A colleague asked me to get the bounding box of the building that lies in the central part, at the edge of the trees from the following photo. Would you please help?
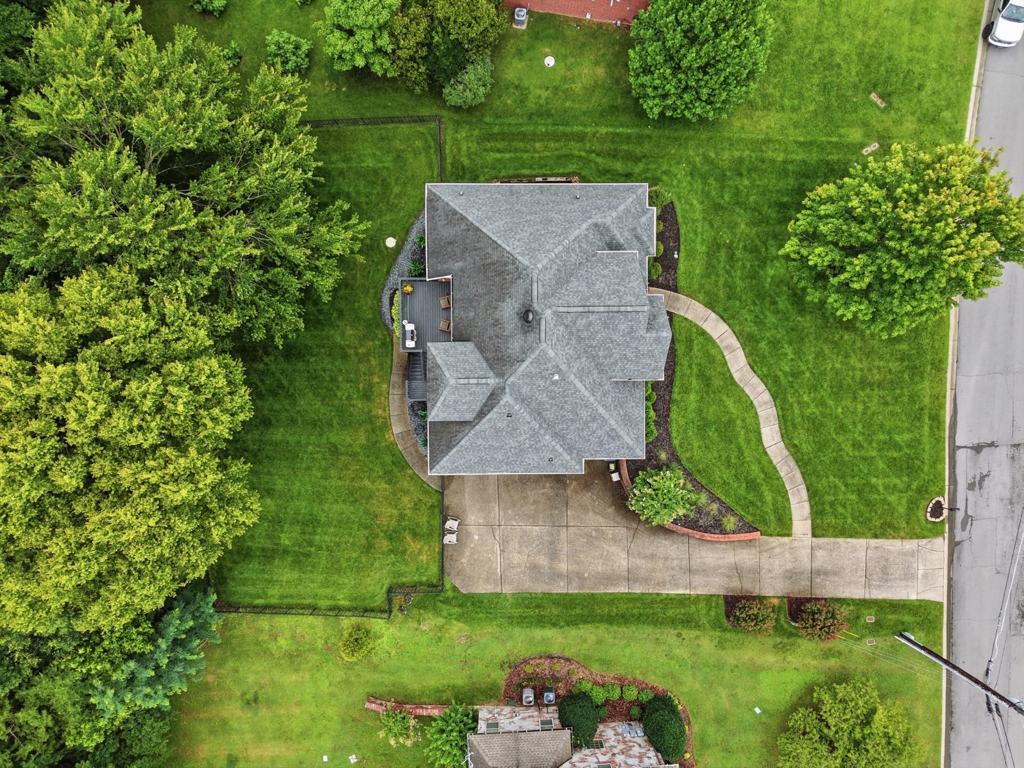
[424,182,672,476]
